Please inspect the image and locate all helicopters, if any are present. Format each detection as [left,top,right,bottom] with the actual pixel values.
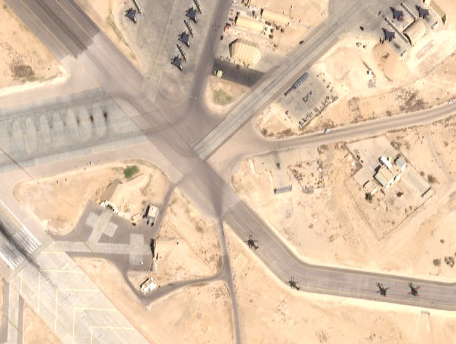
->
[244,235,257,249]
[287,278,301,290]
[408,283,421,297]
[377,282,389,296]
